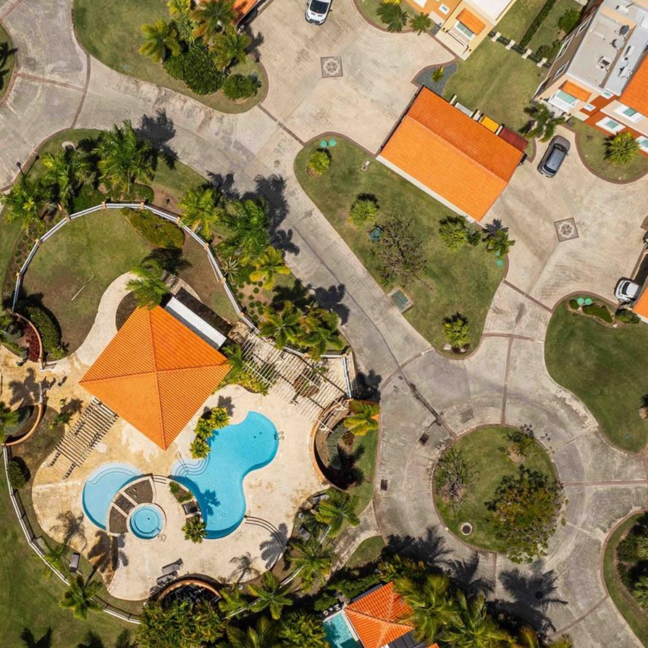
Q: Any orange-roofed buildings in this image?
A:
Yes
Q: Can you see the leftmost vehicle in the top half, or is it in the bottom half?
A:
top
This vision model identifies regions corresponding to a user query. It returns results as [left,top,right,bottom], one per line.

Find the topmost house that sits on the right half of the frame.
[411,0,511,58]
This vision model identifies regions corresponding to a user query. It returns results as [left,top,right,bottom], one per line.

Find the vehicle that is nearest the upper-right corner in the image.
[535,132,569,182]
